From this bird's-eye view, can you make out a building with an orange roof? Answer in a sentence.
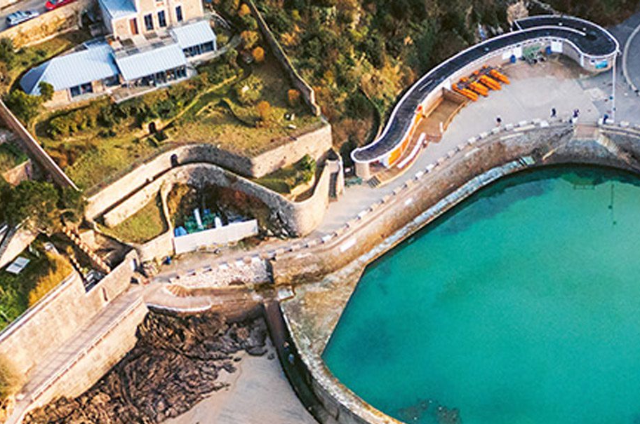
No, I can see no building with an orange roof in this picture.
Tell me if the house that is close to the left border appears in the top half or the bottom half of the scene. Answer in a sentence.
The house that is close to the left border sits in the top half of the picture.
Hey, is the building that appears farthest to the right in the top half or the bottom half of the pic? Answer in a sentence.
The building that appears farthest to the right is in the top half of the image.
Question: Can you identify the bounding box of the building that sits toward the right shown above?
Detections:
[350,13,619,181]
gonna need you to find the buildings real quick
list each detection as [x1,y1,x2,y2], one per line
[350,13,619,181]
[19,0,217,113]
